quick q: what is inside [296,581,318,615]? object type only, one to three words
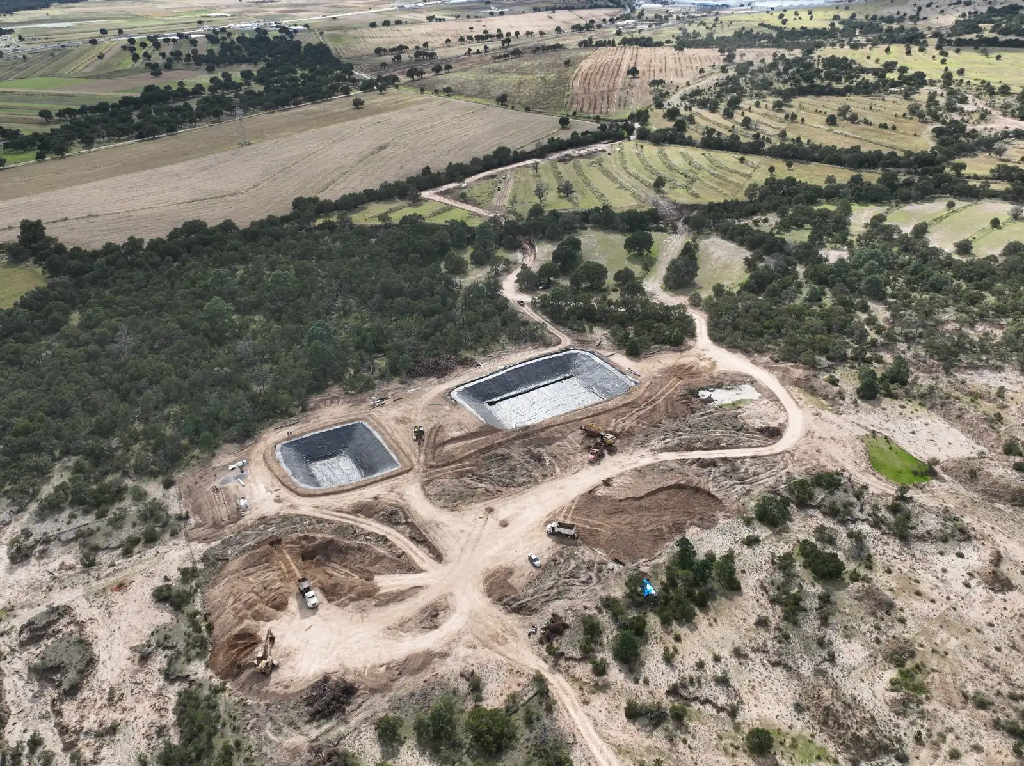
truck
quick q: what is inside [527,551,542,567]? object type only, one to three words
car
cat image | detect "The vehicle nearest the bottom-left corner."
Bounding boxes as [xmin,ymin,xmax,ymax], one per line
[252,629,278,676]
